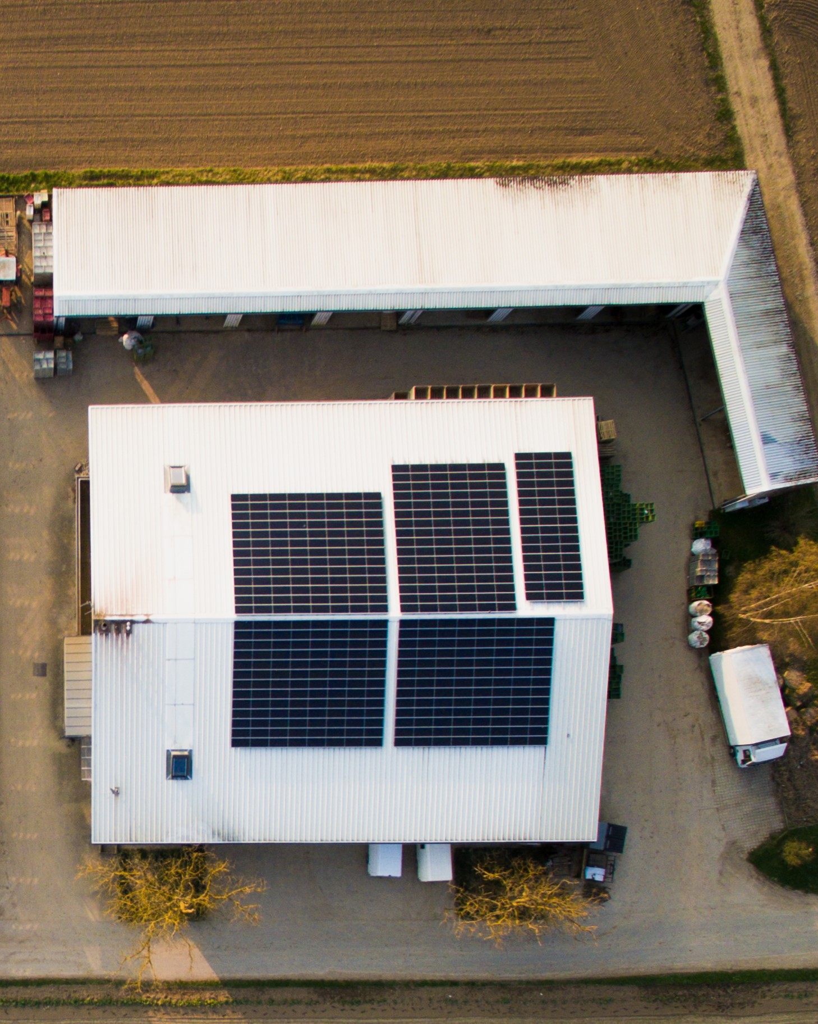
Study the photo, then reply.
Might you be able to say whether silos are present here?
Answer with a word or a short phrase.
No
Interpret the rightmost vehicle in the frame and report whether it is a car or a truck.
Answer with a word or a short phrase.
truck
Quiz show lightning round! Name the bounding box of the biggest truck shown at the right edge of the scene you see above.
[707,645,785,770]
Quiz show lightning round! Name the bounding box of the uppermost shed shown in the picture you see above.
[52,169,818,511]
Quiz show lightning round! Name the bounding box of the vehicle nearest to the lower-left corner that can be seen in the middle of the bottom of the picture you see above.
[365,843,399,875]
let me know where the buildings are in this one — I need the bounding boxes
[88,395,614,844]
[52,169,818,511]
